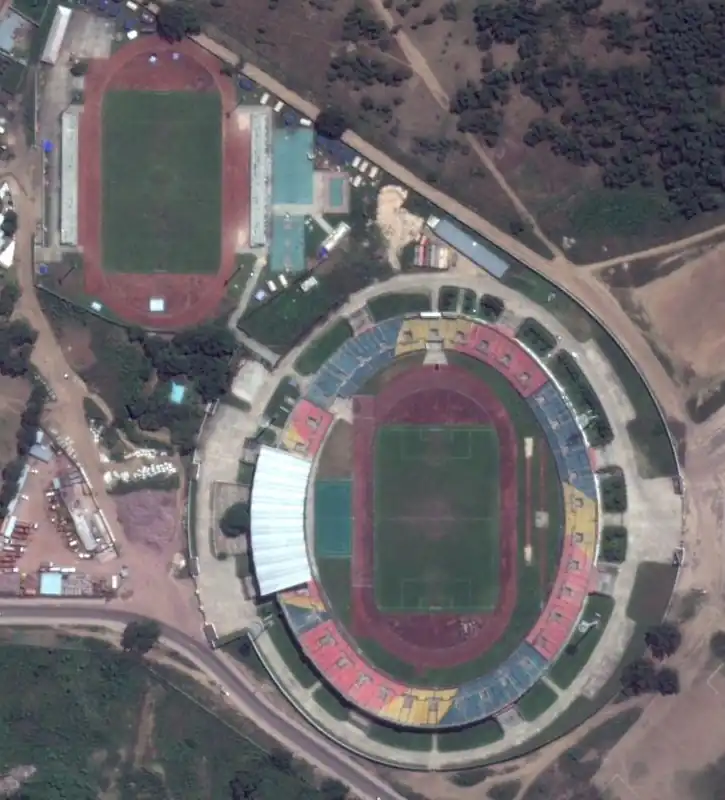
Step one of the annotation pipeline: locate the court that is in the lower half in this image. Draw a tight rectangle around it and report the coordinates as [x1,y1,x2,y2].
[316,480,352,556]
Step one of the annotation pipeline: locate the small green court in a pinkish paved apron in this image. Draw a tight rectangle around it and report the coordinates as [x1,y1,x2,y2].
[314,171,350,212]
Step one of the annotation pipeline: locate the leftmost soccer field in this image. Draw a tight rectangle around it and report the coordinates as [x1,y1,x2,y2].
[103,91,220,273]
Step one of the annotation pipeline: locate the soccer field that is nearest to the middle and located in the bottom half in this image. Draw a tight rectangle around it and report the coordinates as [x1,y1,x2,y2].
[373,424,499,612]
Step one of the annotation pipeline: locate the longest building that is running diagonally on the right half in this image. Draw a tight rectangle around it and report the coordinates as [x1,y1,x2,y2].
[431,219,512,278]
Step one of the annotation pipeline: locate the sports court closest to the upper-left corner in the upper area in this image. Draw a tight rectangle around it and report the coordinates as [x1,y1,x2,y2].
[273,127,314,205]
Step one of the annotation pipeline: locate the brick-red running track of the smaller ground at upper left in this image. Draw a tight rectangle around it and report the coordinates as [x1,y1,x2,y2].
[83,35,250,329]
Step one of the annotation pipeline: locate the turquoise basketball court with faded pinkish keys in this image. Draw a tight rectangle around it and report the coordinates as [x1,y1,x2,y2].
[271,215,305,271]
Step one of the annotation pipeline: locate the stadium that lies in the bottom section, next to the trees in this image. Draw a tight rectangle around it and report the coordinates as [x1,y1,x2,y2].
[250,311,609,730]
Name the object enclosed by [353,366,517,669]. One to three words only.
running track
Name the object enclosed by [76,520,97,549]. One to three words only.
building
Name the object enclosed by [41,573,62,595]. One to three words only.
building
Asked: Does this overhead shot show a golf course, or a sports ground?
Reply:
sports ground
